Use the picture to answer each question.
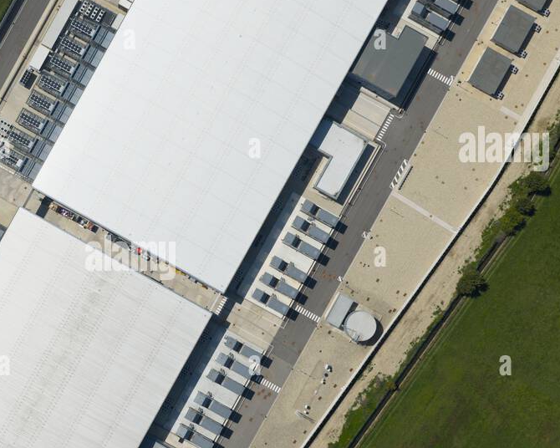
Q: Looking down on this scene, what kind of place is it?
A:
industrial area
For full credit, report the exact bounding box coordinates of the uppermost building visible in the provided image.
[42,0,80,49]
